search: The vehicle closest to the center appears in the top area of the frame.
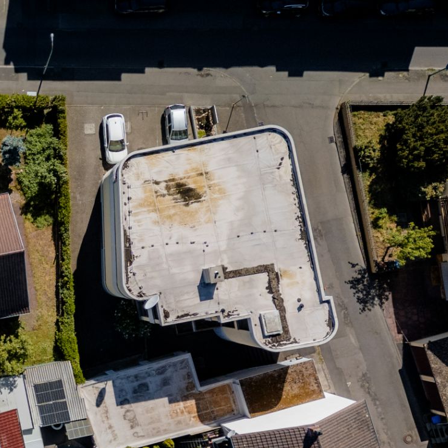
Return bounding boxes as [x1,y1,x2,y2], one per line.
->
[166,100,196,144]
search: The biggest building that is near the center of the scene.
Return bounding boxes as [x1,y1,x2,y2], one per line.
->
[100,125,338,351]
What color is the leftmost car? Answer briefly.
white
